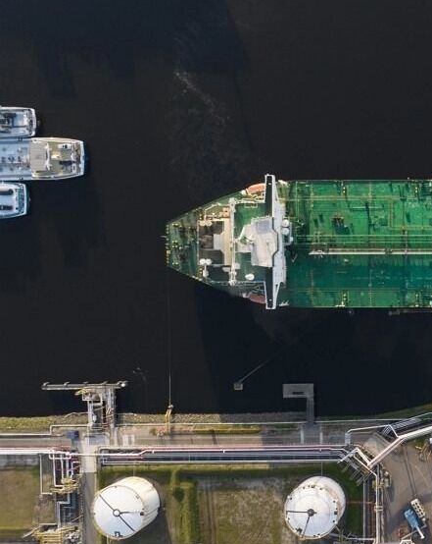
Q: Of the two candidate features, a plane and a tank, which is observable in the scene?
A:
tank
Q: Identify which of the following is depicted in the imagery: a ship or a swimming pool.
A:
ship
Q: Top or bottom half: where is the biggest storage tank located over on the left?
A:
bottom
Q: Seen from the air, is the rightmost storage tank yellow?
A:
No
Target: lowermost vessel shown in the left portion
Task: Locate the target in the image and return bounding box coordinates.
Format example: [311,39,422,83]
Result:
[0,182,31,216]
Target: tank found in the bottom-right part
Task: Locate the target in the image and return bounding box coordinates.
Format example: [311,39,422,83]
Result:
[284,477,345,540]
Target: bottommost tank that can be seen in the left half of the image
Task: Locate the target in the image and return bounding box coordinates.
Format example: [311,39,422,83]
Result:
[89,476,159,539]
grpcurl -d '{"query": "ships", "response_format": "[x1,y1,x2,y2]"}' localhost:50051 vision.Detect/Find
[0,106,39,137]
[166,173,432,313]
[0,182,31,216]
[0,137,88,180]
